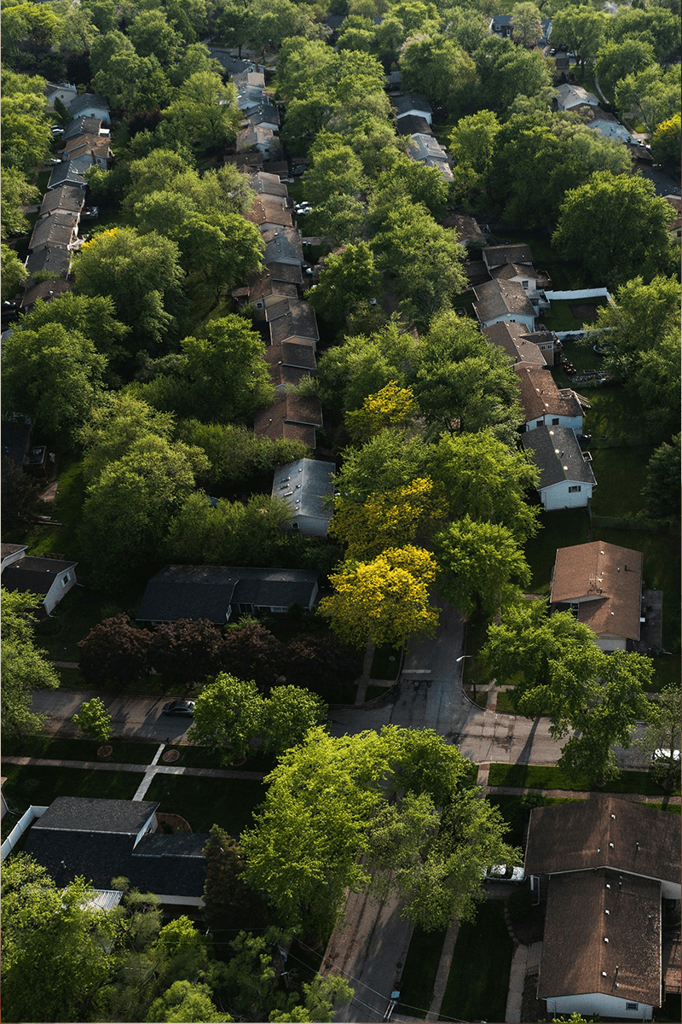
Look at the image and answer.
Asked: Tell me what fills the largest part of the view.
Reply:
trees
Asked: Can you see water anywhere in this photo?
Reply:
No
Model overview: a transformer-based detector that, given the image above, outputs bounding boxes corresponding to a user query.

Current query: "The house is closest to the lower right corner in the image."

[524,797,682,1022]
